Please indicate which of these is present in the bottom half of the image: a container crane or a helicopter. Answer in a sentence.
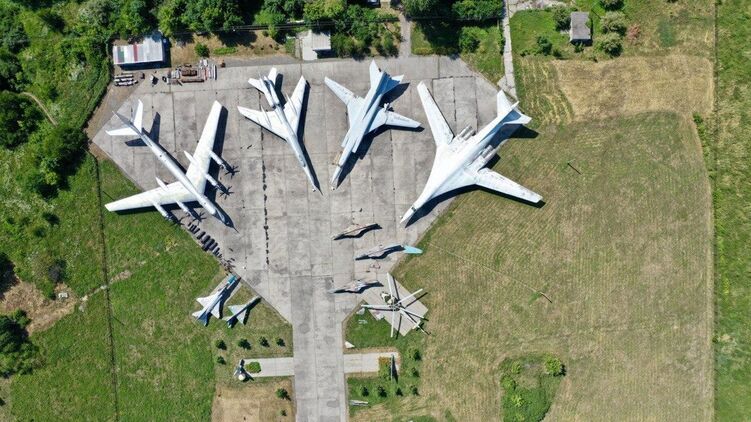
The one visible in the bottom half of the image is a helicopter.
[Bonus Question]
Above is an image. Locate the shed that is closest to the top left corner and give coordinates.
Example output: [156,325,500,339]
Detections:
[113,45,148,65]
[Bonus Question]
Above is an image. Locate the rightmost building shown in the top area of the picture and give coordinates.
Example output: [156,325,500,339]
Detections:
[569,12,590,41]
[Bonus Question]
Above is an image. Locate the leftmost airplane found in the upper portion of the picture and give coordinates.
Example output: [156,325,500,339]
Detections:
[105,99,238,233]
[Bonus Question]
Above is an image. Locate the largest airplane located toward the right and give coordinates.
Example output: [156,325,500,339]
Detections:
[400,80,541,223]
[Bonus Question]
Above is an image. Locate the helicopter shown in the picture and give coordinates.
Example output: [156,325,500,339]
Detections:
[362,274,425,338]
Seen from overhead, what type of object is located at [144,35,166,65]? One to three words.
building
